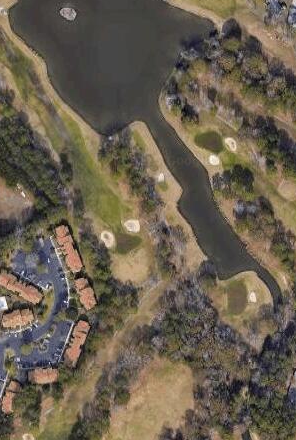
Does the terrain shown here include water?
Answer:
Yes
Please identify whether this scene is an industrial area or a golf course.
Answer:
golf course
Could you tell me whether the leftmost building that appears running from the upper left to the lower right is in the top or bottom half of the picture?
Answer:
bottom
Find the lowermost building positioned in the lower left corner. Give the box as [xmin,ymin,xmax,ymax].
[1,380,23,415]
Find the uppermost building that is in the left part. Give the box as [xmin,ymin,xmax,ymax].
[54,222,84,274]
